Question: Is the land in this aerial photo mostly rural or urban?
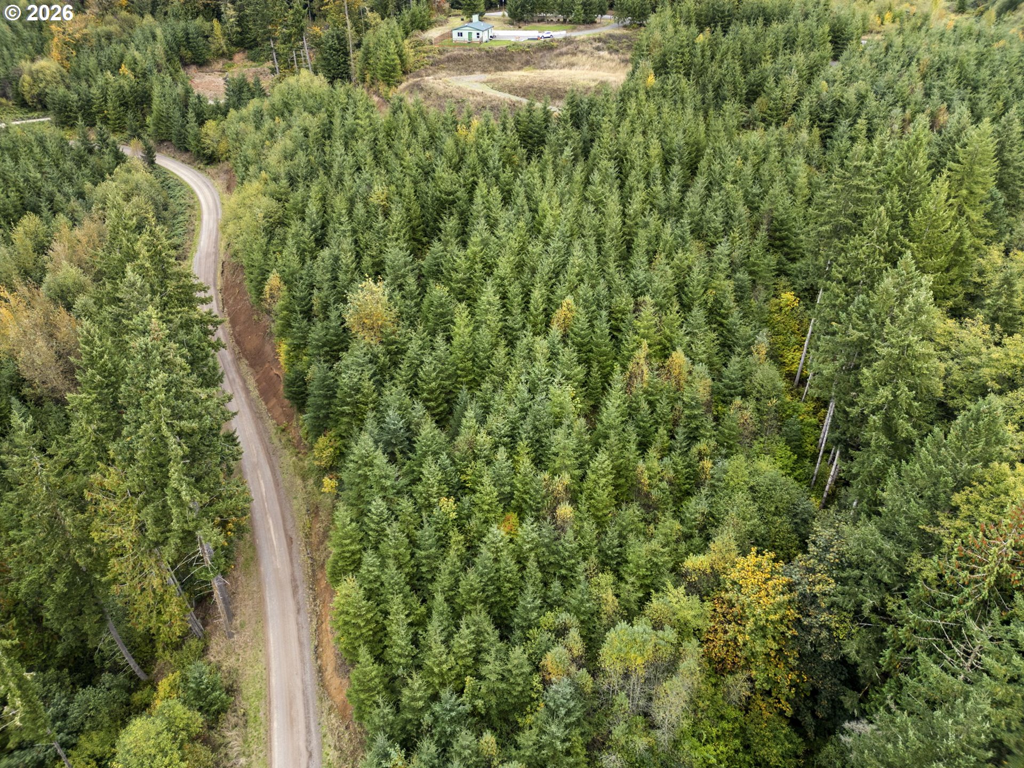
rural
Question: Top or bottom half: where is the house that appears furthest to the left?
top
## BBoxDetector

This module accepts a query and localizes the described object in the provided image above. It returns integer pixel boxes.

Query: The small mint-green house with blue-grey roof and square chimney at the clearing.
[450,12,494,44]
